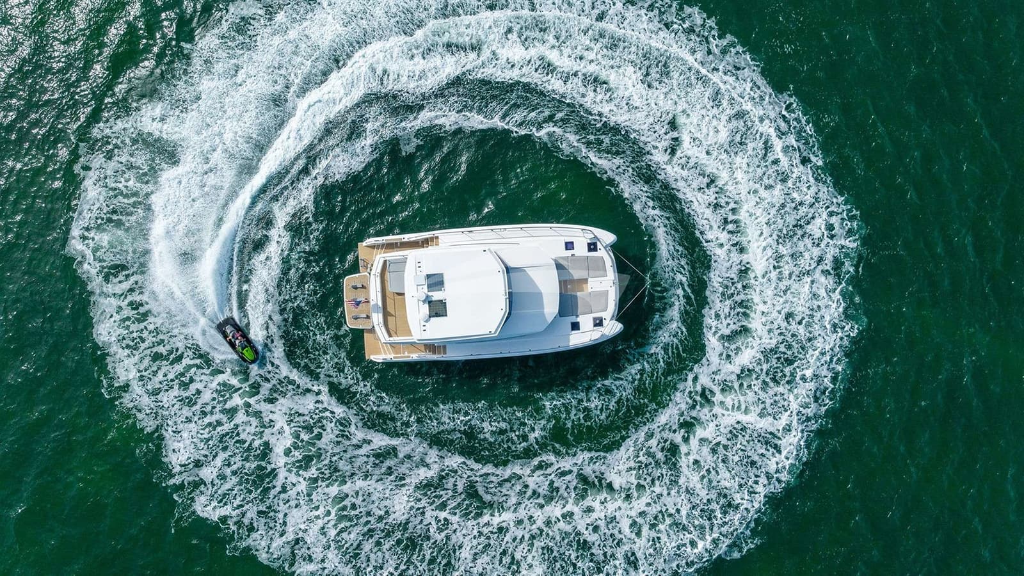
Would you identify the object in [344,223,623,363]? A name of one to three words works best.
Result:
boat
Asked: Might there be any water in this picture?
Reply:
Yes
